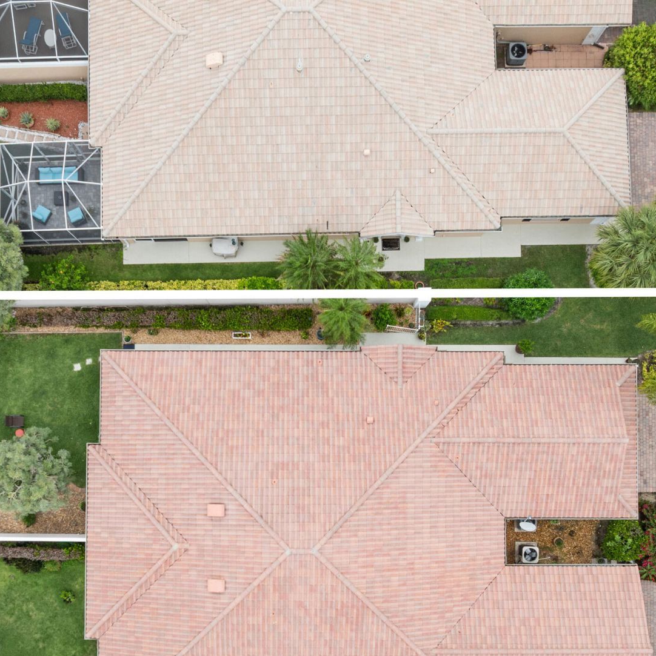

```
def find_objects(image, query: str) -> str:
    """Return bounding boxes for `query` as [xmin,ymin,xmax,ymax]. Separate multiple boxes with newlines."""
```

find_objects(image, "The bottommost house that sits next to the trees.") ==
[83,343,654,656]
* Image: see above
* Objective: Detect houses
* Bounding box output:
[83,343,654,656]
[85,0,634,247]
